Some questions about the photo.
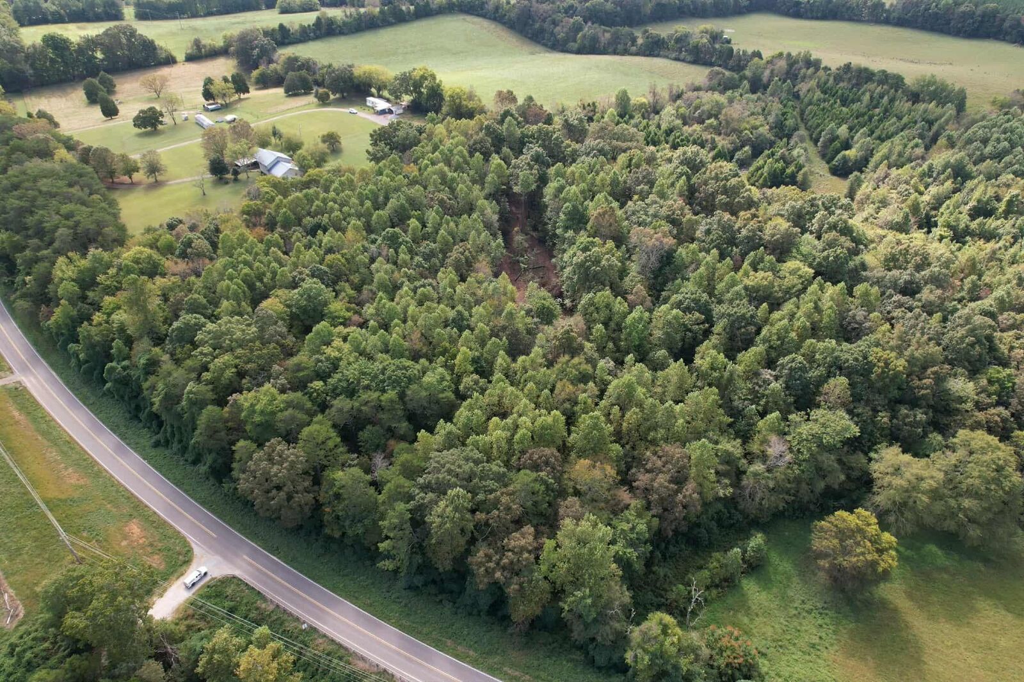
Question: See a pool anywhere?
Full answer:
No, the picture doesn't show any pool.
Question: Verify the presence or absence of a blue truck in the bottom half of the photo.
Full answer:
No, no blue truck is visible in the bottom half of the photo.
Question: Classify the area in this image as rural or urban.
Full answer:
It looks rural.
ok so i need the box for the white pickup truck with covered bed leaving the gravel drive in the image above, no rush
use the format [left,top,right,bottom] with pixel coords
[180,565,209,589]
